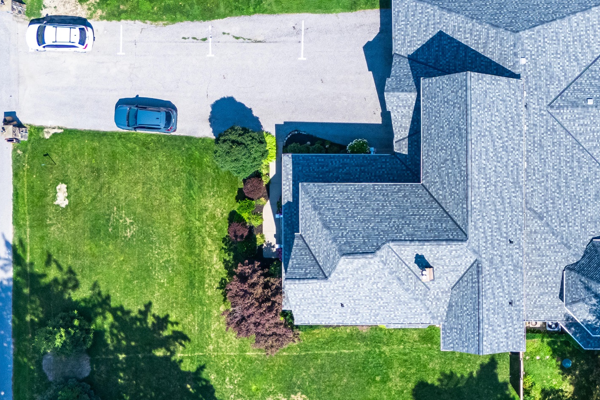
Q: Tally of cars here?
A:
2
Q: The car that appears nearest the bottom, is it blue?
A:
Yes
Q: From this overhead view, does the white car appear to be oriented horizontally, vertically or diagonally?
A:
horizontally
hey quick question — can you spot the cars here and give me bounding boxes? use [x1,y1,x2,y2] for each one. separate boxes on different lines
[29,19,97,52]
[118,101,179,134]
